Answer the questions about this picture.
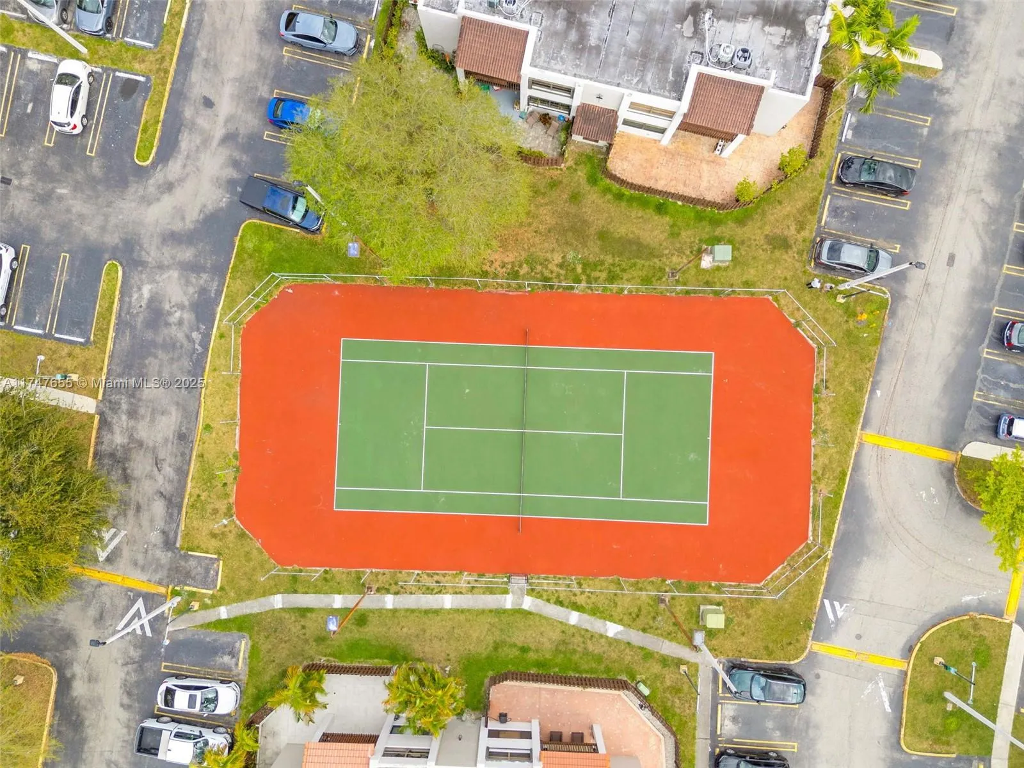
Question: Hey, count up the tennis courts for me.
1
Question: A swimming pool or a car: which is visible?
car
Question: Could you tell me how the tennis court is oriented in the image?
from side to side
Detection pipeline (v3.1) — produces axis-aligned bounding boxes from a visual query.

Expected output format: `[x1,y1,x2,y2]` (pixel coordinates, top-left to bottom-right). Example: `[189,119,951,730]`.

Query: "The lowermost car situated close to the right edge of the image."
[996,415,1024,444]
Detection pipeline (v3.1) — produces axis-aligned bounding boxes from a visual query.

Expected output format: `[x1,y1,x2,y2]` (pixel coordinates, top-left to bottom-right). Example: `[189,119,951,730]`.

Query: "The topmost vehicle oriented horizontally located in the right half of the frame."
[834,156,916,197]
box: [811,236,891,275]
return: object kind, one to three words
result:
car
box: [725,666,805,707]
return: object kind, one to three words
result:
car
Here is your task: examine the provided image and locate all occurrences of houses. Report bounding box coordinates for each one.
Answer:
[418,0,840,156]
[275,715,641,768]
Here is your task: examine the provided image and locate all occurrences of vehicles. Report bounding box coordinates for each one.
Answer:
[811,236,891,275]
[160,675,242,717]
[0,248,17,318]
[267,97,338,136]
[711,749,791,768]
[50,62,94,132]
[725,666,805,707]
[834,156,916,197]
[74,0,114,34]
[30,0,65,24]
[280,12,358,58]
[137,717,237,768]
[996,415,1024,444]
[1000,323,1024,354]
[237,175,328,236]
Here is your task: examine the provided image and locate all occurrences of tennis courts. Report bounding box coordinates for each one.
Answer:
[233,284,817,585]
